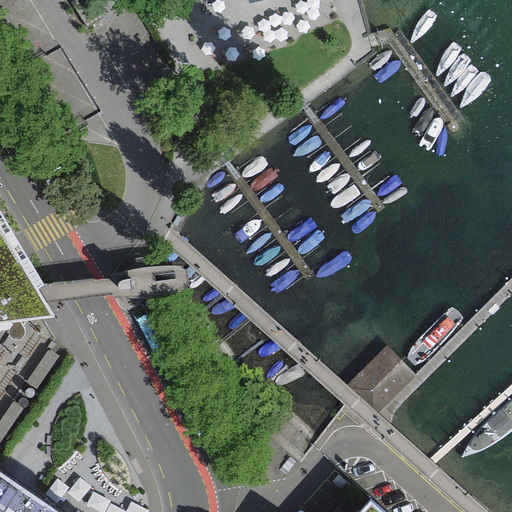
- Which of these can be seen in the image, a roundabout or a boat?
boat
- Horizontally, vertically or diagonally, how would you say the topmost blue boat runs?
diagonally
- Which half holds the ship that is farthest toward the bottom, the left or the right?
right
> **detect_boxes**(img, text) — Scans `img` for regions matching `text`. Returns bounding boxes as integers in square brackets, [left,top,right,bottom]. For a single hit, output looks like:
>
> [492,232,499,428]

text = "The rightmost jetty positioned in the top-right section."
[390,32,465,130]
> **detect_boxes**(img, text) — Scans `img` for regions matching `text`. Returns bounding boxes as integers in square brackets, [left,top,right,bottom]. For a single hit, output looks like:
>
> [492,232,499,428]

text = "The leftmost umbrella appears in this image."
[48,478,67,498]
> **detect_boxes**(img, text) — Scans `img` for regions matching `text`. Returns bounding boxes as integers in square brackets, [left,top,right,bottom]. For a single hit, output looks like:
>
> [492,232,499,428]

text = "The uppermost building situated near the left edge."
[0,220,54,326]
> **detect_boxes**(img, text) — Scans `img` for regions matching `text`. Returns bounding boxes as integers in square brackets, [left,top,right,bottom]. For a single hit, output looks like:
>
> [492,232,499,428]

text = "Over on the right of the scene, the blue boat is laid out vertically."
[436,123,448,156]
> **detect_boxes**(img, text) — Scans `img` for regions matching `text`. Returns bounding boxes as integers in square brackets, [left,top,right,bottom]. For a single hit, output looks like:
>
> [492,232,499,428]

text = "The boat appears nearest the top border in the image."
[412,12,436,42]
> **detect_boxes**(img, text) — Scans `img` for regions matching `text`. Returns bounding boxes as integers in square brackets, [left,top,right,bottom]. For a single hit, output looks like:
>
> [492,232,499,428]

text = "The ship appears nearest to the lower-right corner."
[462,400,512,458]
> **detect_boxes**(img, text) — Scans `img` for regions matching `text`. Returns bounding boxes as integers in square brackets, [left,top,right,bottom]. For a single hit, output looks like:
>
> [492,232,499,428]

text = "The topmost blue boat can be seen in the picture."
[374,60,402,82]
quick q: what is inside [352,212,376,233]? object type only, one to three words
boat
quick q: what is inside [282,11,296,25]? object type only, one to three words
umbrella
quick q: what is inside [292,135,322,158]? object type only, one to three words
boat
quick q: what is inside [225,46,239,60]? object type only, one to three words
umbrella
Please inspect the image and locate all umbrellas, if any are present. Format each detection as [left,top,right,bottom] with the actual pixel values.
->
[262,29,276,42]
[258,18,271,32]
[275,28,288,41]
[270,14,282,26]
[242,26,255,39]
[306,0,320,8]
[48,478,67,498]
[295,0,309,14]
[308,7,320,20]
[86,494,110,512]
[212,0,225,12]
[225,46,239,60]
[218,26,232,40]
[128,501,147,512]
[252,46,266,60]
[282,11,296,25]
[68,478,90,502]
[109,503,128,512]
[297,20,310,32]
